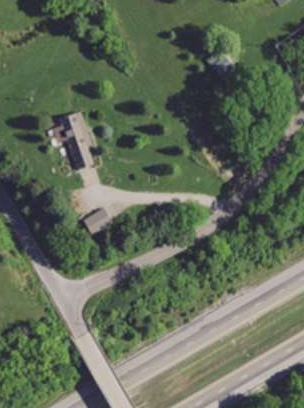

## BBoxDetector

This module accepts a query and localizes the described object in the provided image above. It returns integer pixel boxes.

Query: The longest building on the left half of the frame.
[56,113,94,170]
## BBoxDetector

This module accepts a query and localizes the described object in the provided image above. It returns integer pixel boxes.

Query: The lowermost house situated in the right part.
[204,54,236,83]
